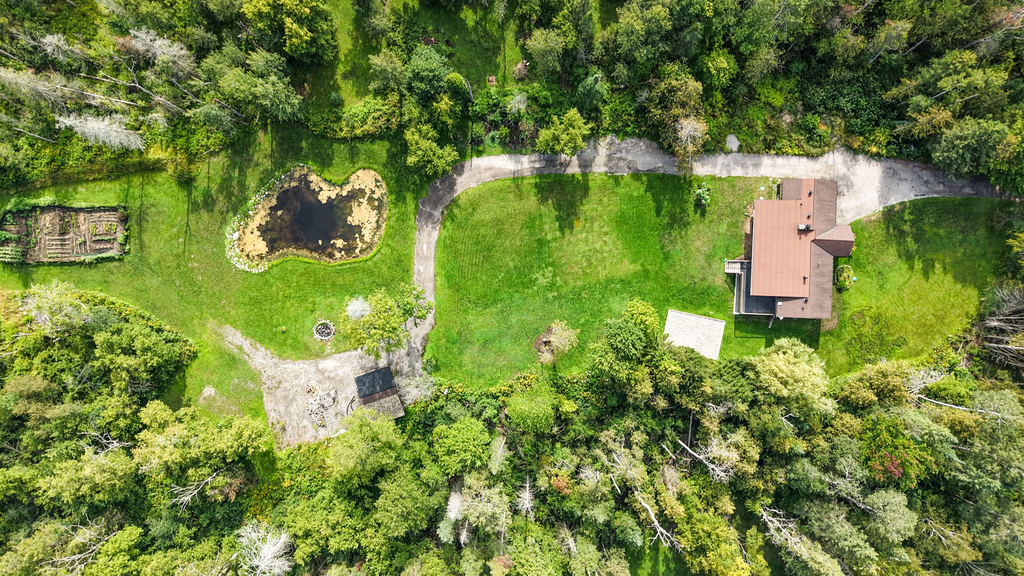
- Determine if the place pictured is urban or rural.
rural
